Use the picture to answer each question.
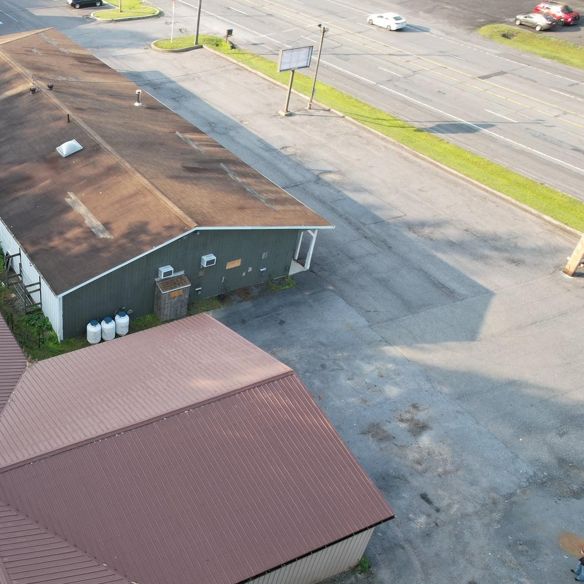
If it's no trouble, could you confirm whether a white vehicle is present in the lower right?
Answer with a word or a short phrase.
No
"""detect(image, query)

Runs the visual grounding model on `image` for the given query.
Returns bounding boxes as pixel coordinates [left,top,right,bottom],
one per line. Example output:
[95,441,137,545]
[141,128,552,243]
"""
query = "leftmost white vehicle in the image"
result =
[367,10,409,30]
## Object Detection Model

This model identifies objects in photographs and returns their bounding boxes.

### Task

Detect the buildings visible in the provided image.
[0,29,334,339]
[0,310,400,584]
